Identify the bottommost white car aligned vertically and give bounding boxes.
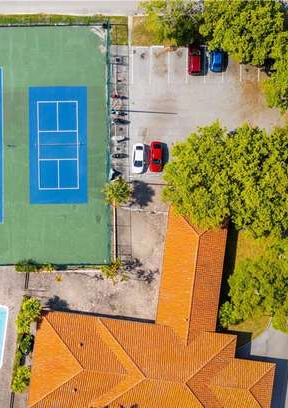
[132,143,147,174]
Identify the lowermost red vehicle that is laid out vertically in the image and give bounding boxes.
[149,141,164,172]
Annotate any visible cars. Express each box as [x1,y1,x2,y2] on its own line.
[208,48,224,77]
[132,143,147,174]
[149,141,164,172]
[187,45,203,76]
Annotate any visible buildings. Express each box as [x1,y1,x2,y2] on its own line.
[30,204,276,408]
